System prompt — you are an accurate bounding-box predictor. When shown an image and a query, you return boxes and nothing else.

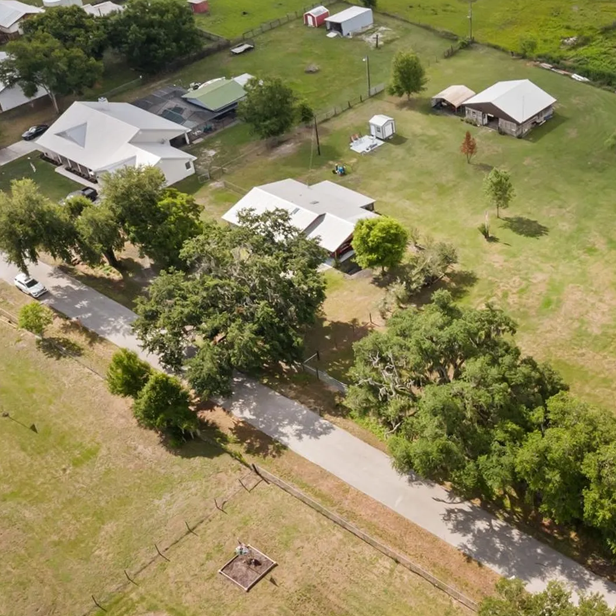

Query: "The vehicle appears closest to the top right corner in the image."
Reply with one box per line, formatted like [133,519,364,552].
[335,161,347,175]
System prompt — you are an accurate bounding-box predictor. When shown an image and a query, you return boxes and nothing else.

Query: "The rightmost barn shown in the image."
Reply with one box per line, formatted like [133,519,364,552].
[460,80,558,139]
